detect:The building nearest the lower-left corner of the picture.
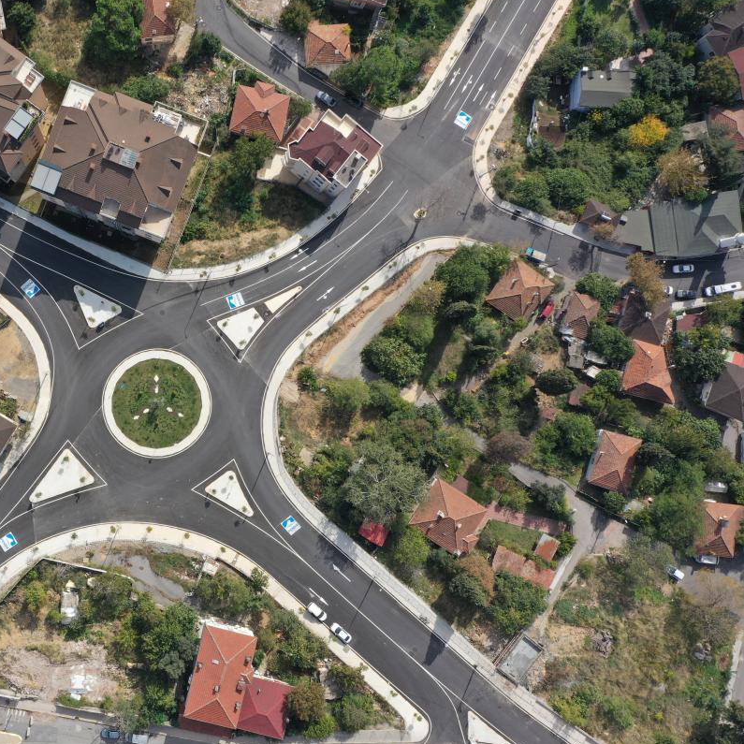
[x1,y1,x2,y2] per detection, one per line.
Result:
[63,595,78,619]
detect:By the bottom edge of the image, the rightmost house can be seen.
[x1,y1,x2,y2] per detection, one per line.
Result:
[236,664,295,740]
